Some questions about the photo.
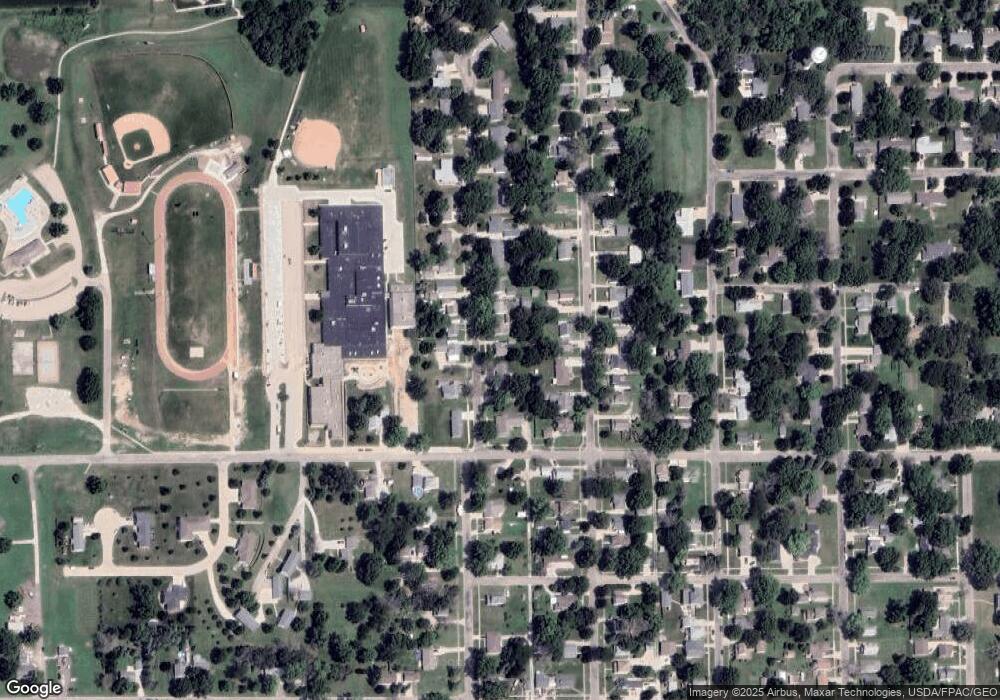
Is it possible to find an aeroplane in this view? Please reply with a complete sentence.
No, the scene contains no aeroplane.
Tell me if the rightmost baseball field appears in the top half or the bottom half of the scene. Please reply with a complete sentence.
You can find the rightmost baseball field in the top half.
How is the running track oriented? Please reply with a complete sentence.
From this overhead view, the running track appears to run vertically.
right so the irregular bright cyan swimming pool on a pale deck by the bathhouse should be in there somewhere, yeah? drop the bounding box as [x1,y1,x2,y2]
[0,176,50,270]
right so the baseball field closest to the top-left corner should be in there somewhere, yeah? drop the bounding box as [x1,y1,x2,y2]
[94,54,232,172]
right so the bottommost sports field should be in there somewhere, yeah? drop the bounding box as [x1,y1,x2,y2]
[168,184,226,369]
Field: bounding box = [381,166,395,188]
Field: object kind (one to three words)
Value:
shed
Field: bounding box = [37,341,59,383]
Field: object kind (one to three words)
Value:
sports court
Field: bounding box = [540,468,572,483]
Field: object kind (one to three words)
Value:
house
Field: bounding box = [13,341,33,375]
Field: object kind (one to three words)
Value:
sports court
